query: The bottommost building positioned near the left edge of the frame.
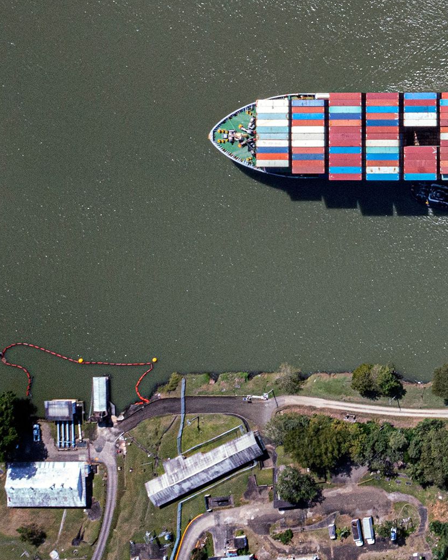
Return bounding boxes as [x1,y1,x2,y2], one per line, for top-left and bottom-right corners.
[5,457,96,507]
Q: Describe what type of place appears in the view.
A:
port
